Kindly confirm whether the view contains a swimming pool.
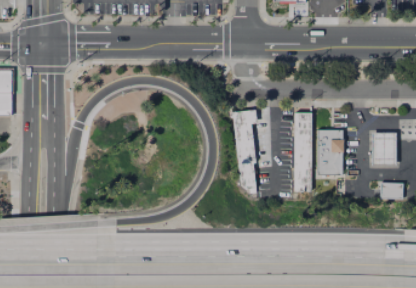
No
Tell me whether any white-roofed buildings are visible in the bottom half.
Yes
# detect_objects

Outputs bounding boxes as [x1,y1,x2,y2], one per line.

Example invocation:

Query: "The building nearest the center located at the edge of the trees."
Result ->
[234,110,258,194]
